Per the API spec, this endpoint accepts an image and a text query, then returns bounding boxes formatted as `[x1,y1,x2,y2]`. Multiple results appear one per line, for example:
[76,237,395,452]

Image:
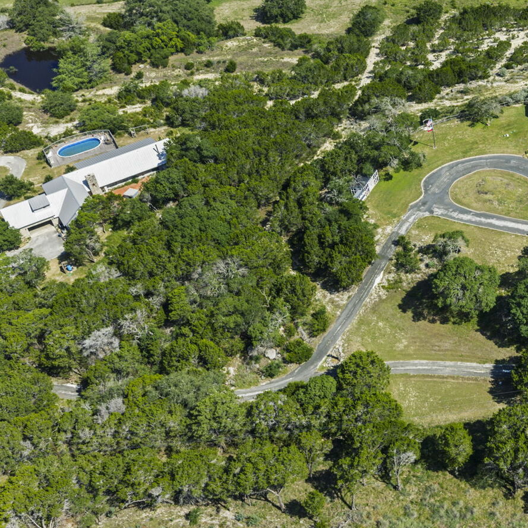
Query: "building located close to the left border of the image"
[0,135,176,237]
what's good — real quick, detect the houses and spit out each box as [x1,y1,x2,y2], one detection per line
[0,135,176,237]
[346,166,379,198]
